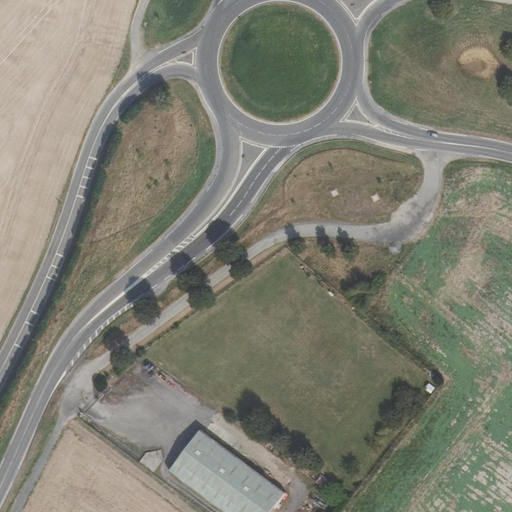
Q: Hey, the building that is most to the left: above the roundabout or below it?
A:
below it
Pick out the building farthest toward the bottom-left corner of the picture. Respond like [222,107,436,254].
[170,430,285,512]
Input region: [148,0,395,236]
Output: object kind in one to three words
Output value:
roundabout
